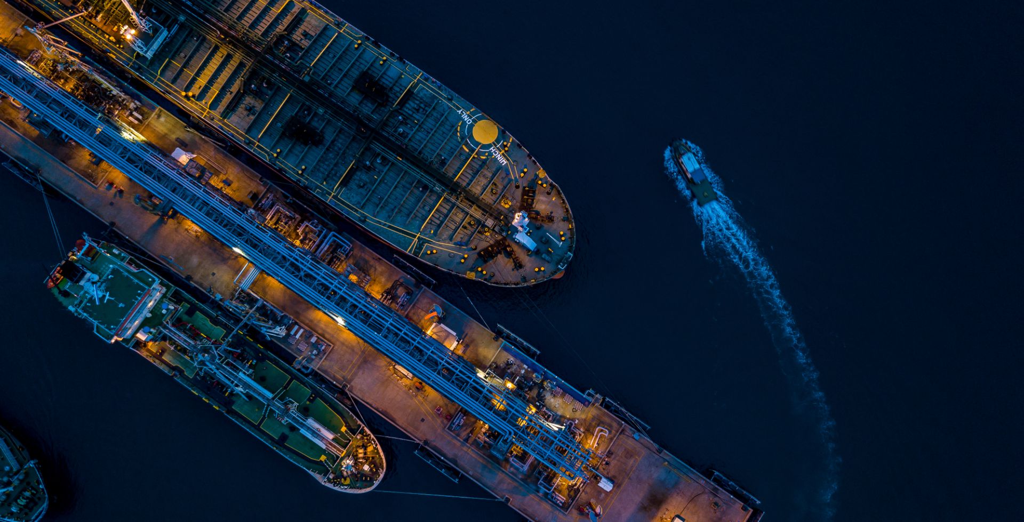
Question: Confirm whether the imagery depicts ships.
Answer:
Yes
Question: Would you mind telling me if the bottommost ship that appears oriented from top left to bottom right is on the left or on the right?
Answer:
left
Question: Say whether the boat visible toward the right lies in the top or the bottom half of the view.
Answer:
top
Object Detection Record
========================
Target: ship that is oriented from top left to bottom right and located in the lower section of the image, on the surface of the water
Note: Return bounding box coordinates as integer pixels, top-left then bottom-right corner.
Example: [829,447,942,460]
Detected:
[39,232,385,493]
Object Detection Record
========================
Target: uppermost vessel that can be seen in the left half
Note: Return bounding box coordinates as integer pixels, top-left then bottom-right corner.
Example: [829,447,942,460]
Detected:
[21,0,574,286]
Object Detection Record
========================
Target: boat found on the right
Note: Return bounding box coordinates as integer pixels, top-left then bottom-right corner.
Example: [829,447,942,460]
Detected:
[675,138,715,206]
